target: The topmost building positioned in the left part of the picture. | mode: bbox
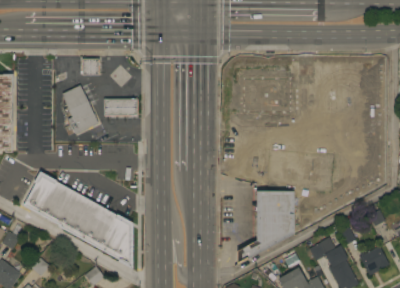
[80,58,100,75]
